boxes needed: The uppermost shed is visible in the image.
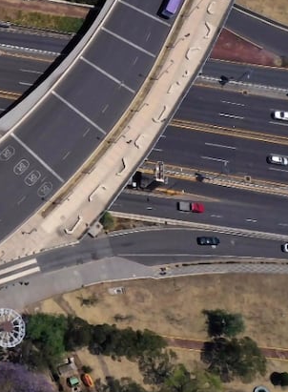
[54,351,81,378]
